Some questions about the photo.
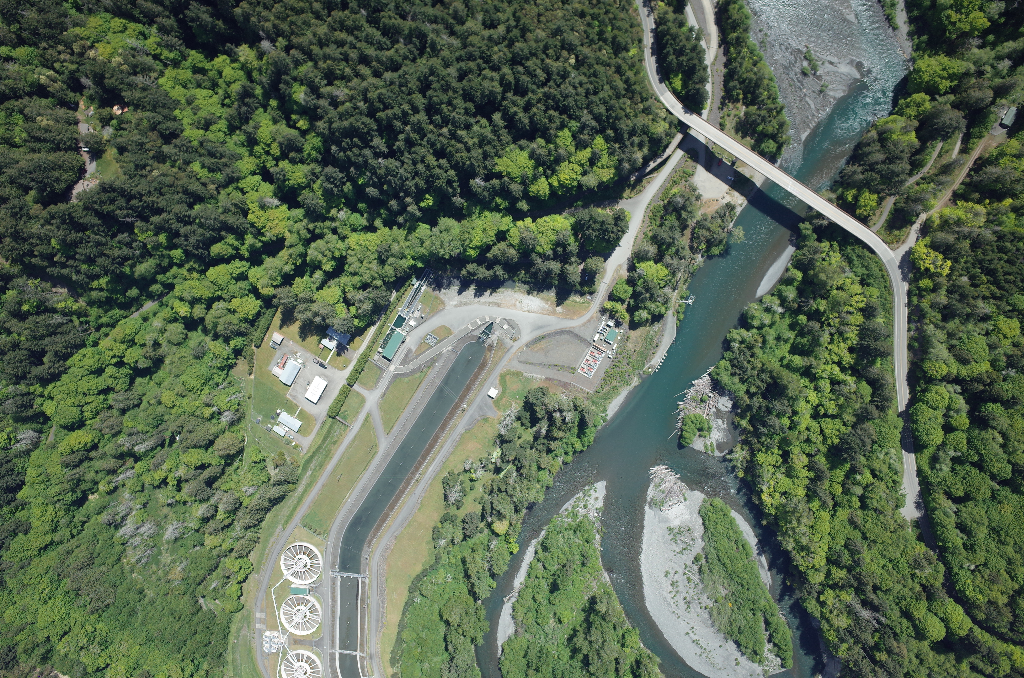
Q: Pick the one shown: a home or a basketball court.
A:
home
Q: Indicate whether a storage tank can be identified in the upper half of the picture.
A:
No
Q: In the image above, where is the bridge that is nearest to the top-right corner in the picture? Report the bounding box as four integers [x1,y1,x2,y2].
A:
[660,86,896,263]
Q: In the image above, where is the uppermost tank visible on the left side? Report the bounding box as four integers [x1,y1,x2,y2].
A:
[281,542,323,585]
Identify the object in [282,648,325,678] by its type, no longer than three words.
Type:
storage tank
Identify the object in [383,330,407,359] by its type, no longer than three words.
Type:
house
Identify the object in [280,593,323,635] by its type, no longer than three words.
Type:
storage tank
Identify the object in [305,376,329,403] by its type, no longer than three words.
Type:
building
